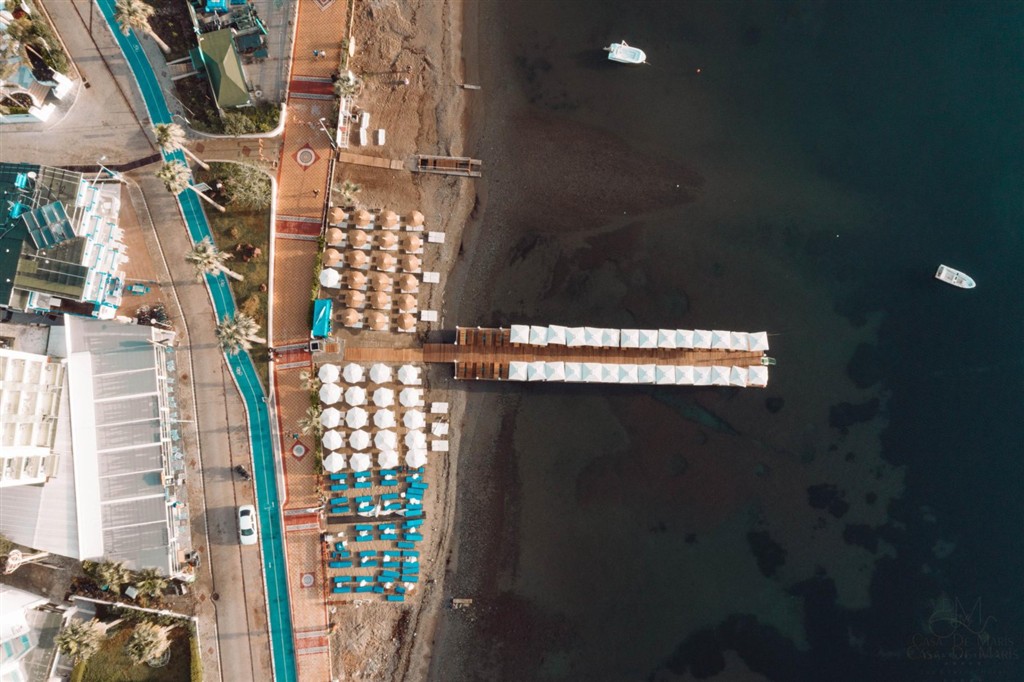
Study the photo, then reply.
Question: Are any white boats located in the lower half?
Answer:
No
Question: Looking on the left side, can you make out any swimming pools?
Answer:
Yes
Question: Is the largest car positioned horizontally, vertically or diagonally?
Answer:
vertically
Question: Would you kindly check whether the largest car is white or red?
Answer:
white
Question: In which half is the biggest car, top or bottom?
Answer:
bottom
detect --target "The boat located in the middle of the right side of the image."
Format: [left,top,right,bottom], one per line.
[934,264,977,286]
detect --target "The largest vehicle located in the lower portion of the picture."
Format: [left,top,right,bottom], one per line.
[236,504,258,547]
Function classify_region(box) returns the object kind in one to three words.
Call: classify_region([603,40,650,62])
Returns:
boat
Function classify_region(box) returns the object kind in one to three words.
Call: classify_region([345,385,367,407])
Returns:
umbrella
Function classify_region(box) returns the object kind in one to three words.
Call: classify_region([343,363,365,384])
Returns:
umbrella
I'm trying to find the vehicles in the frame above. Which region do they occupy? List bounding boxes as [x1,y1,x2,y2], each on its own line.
[236,504,258,547]
[183,548,196,568]
[191,552,203,571]
[232,463,251,482]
